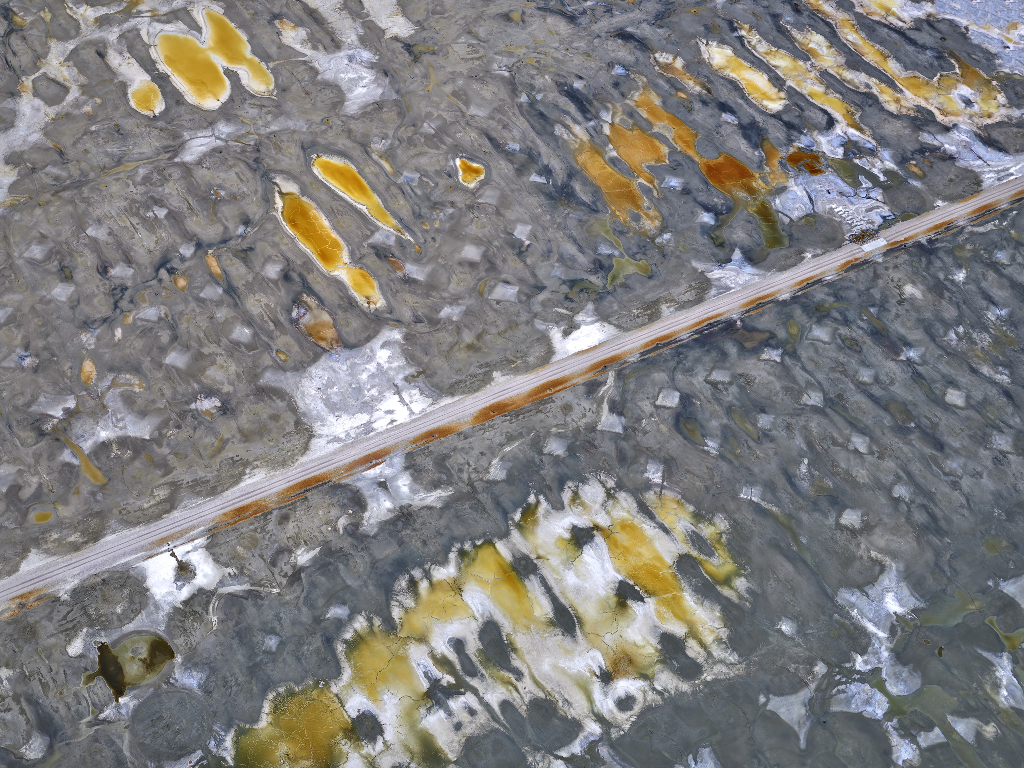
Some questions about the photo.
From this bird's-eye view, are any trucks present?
No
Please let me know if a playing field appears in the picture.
No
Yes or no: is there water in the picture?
Yes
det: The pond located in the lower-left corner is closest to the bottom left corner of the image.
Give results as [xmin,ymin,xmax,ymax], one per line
[82,636,175,703]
